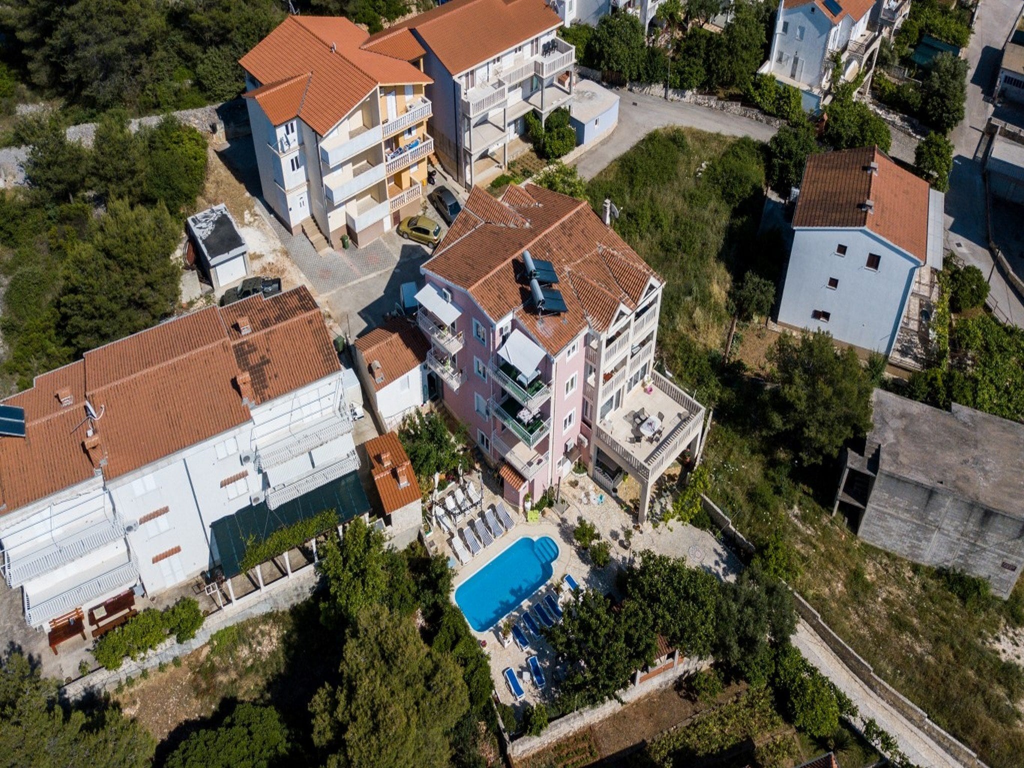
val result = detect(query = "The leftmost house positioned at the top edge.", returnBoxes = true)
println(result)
[236,1,447,261]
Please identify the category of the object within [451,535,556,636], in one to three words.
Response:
swimming pool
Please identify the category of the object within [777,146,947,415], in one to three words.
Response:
house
